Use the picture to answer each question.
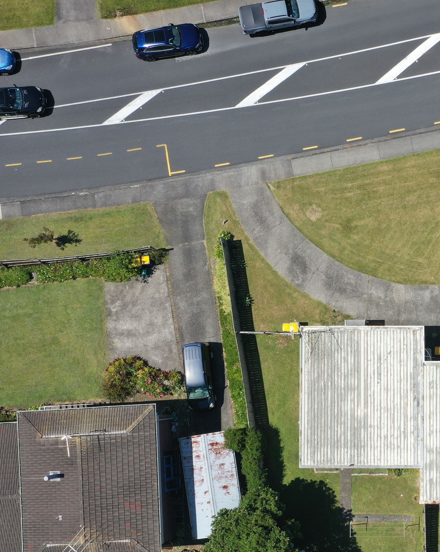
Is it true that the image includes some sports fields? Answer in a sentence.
No, this view has no sports field in it.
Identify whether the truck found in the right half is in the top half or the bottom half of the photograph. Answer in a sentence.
You can find the truck found in the right half in the top half.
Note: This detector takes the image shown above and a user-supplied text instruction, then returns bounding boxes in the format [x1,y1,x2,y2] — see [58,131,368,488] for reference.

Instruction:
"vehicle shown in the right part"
[233,0,320,37]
